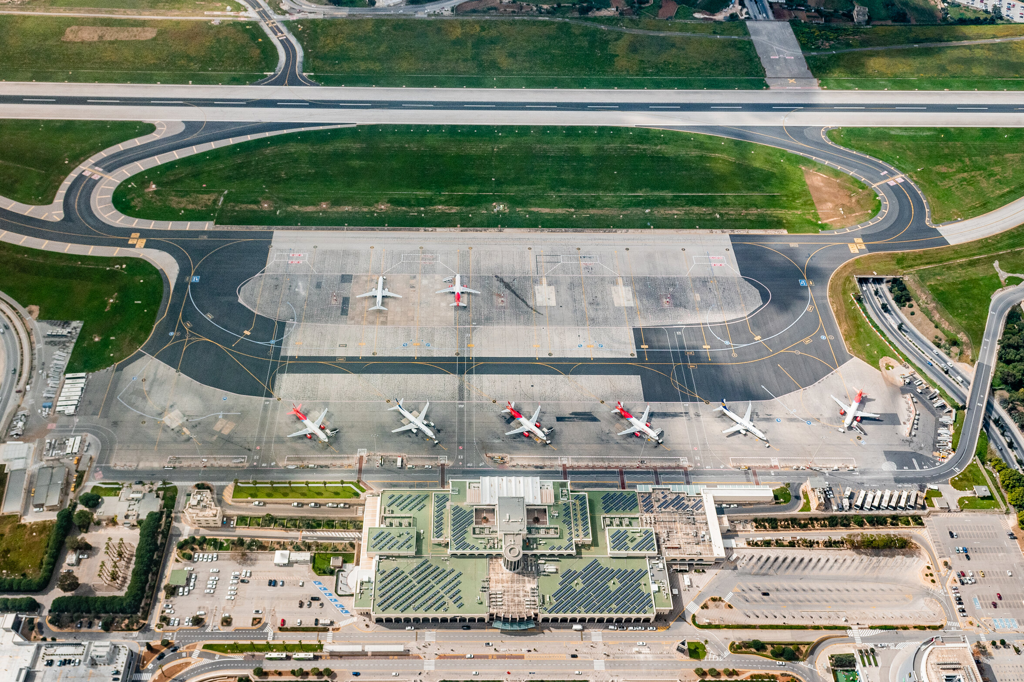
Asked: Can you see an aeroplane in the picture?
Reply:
Yes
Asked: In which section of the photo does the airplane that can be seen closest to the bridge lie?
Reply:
right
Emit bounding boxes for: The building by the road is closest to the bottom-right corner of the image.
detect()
[909,634,980,682]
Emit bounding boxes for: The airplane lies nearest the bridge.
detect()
[832,386,880,429]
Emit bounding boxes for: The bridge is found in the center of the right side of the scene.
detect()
[896,282,1024,484]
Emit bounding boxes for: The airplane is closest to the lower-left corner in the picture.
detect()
[285,402,328,442]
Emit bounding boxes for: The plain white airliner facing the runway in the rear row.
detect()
[356,276,402,310]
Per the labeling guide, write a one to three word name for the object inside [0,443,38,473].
building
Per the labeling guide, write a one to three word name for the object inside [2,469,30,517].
shed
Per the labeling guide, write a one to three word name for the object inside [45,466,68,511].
shed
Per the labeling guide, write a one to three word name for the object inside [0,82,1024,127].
runway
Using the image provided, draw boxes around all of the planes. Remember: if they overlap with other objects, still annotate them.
[356,276,402,310]
[391,400,437,440]
[717,400,768,441]
[501,401,547,441]
[435,274,481,306]
[285,402,328,442]
[613,401,660,441]
[832,386,880,429]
